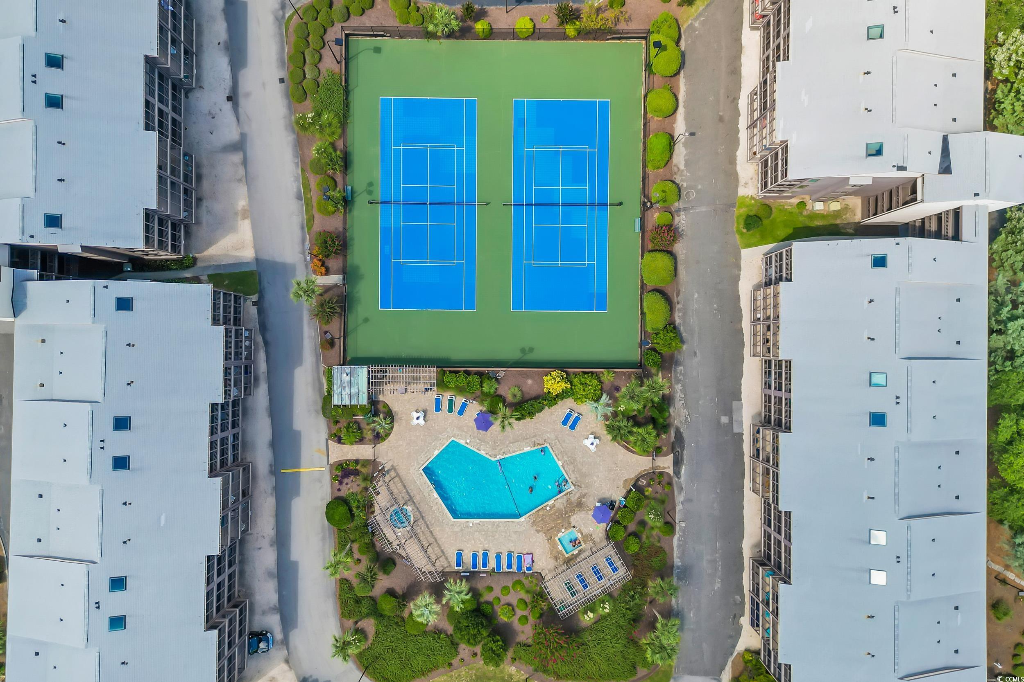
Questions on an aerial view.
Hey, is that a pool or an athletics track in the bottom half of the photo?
pool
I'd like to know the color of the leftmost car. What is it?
blue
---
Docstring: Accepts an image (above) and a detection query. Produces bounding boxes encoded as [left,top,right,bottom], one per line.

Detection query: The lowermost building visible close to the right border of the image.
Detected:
[747,236,987,682]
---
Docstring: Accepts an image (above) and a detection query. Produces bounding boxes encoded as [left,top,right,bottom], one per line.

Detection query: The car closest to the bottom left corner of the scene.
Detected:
[250,635,277,657]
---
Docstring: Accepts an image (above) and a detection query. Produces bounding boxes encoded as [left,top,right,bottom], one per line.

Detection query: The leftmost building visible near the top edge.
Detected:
[0,0,199,264]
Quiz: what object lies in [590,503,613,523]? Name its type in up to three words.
umbrella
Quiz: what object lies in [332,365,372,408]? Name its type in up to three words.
shed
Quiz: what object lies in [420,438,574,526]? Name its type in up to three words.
swimming pool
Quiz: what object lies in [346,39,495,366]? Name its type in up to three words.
tennis court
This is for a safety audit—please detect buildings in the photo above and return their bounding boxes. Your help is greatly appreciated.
[745,0,985,205]
[332,365,372,408]
[747,236,987,682]
[11,277,258,682]
[0,0,199,264]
